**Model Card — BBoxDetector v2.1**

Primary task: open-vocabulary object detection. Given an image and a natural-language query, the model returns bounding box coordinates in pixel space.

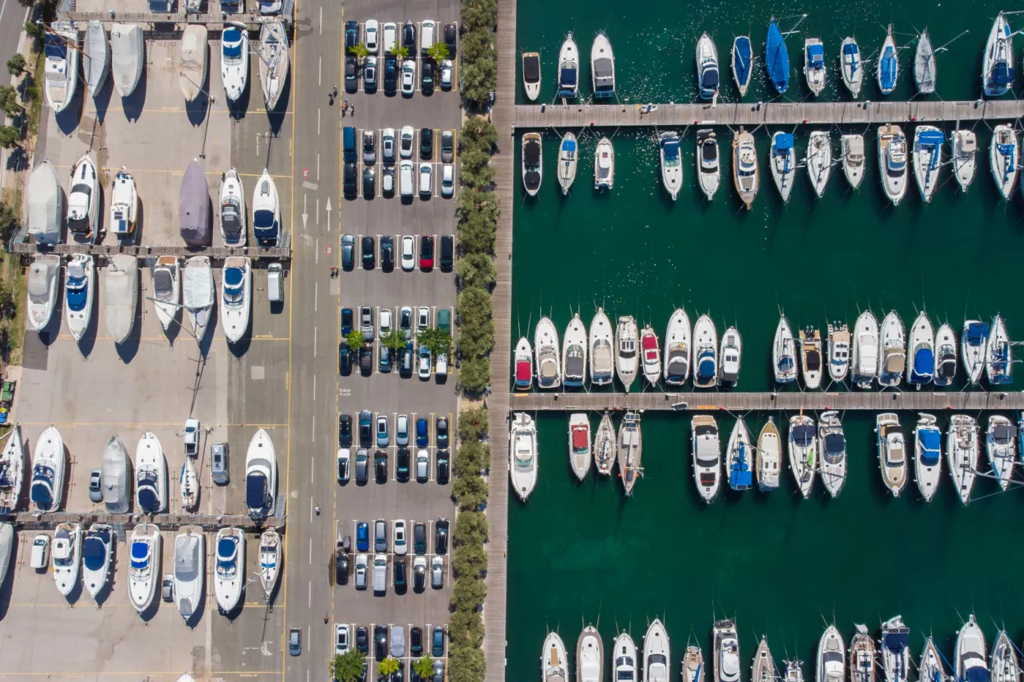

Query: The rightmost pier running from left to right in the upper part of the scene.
[516,100,1024,128]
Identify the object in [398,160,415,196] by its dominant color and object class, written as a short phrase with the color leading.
white vehicle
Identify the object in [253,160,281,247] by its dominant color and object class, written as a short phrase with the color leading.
white boat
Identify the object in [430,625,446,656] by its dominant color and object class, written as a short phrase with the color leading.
blue car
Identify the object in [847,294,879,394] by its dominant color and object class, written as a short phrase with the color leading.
white boat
